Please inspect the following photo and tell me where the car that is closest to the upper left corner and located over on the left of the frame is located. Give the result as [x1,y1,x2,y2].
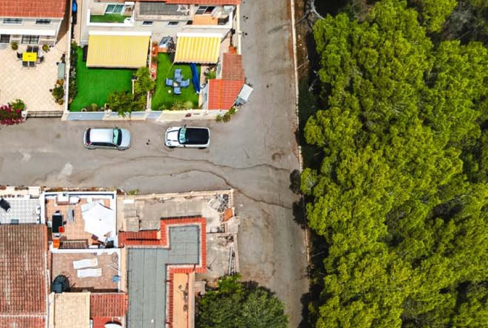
[83,125,130,152]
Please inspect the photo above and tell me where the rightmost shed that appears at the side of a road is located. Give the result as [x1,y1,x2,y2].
[198,53,245,111]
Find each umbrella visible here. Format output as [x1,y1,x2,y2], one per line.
[78,200,120,240]
[189,63,201,102]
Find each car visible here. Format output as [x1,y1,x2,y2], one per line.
[83,125,130,152]
[163,124,211,150]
